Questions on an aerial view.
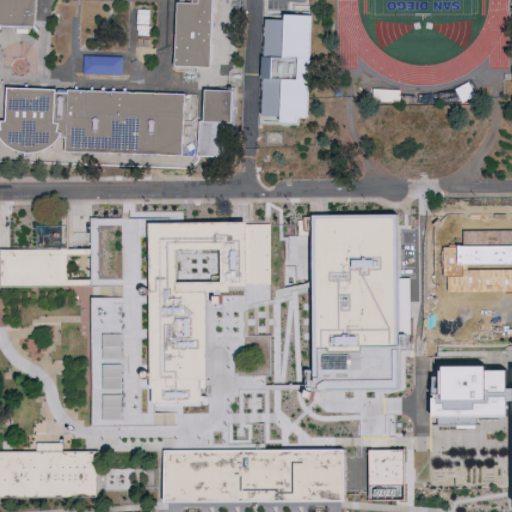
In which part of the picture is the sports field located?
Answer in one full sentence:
The sports field is located in the top right region of the scene.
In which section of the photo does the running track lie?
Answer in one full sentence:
The running track is located in the top right region of the scene.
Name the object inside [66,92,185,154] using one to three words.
building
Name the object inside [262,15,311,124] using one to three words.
building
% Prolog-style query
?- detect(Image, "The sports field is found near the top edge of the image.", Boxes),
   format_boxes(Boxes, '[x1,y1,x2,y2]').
[358,0,490,65]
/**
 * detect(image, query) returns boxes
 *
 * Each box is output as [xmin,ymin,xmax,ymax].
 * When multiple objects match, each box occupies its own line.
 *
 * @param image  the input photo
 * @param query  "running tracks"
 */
[338,0,510,84]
